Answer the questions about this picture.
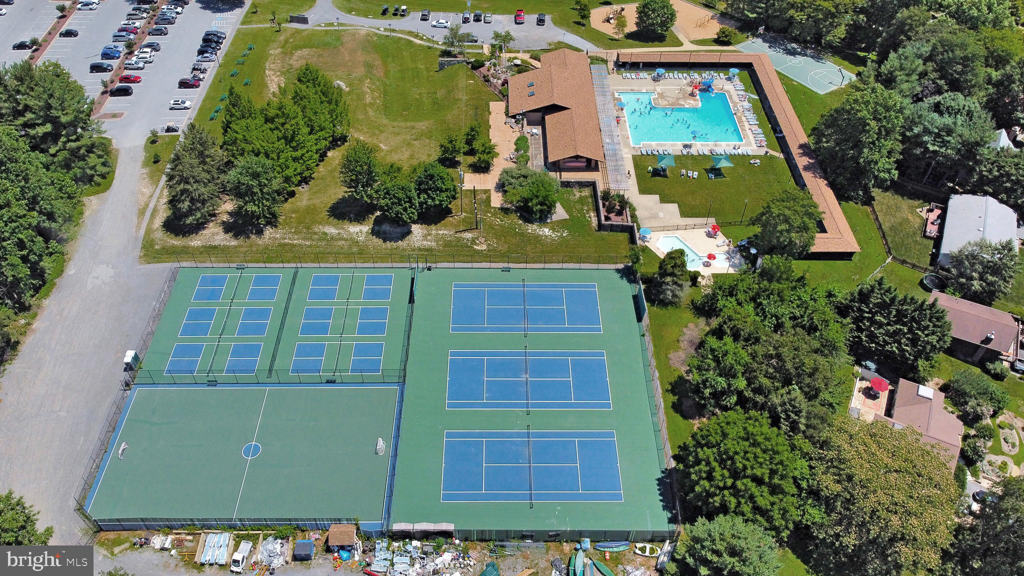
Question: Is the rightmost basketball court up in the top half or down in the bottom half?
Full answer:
It is in the top half that the rightmost basketball court appears.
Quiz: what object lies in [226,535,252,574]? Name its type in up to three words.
truck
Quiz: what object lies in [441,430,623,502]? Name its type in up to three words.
tennis court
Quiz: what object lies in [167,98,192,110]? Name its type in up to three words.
vehicle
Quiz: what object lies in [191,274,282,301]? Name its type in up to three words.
sports court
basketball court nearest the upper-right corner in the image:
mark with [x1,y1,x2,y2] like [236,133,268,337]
[735,32,856,94]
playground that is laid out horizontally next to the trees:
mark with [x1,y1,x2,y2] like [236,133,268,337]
[591,0,738,41]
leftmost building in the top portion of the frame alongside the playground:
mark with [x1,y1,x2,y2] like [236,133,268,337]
[509,48,605,175]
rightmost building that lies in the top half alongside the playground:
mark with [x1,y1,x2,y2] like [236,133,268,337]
[617,51,862,261]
